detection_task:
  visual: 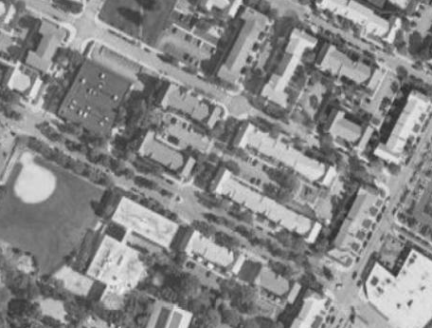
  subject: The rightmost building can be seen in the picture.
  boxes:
[415,7,432,34]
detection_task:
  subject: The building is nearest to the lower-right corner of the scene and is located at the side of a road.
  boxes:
[366,249,432,328]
